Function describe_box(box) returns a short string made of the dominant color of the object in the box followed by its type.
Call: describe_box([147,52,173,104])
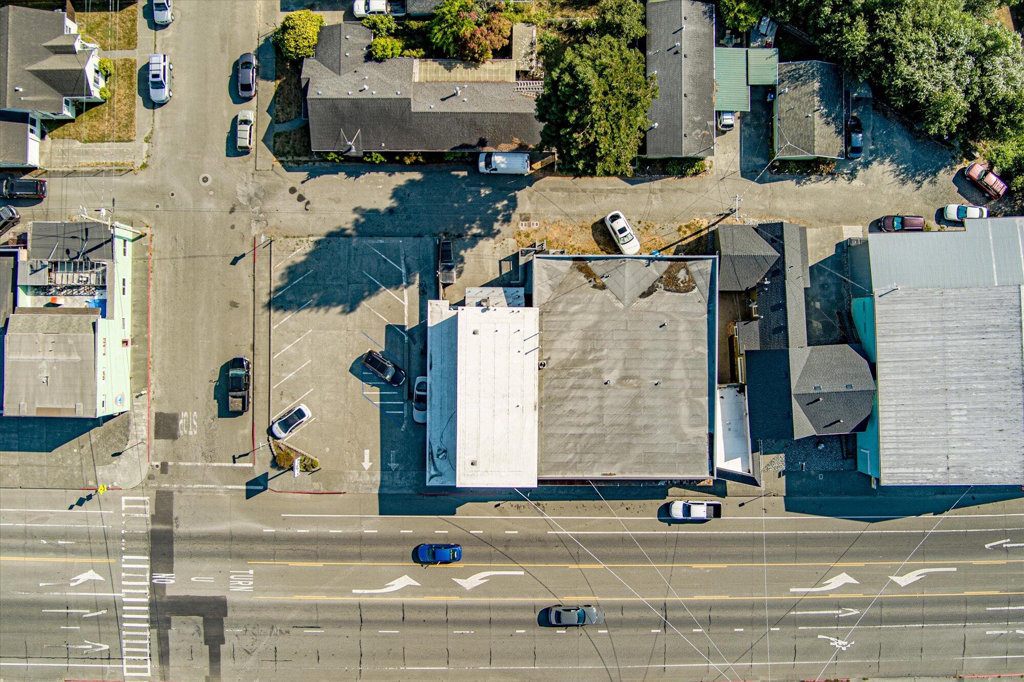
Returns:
white car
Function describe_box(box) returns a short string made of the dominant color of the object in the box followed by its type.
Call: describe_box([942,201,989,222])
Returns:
white car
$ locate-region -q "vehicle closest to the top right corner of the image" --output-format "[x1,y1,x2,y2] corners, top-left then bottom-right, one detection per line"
[962,164,1013,202]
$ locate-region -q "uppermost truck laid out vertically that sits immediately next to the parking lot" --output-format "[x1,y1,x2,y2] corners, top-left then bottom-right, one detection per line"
[437,240,458,286]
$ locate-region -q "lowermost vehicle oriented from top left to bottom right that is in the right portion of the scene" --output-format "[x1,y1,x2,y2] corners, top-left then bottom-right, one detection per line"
[604,208,641,255]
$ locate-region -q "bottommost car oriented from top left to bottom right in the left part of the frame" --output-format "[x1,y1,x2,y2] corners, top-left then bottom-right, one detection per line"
[359,349,406,388]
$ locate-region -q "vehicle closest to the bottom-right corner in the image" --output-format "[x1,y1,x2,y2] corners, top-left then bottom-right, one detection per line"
[670,500,722,522]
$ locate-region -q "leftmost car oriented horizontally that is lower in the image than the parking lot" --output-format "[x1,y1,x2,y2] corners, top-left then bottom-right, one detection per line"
[419,543,462,565]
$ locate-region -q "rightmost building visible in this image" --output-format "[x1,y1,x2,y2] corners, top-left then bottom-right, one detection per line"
[853,218,1024,488]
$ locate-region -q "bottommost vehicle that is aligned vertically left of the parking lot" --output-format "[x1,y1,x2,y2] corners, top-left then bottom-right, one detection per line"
[227,357,252,412]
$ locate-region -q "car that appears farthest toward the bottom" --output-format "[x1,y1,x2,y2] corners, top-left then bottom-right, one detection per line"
[548,605,598,628]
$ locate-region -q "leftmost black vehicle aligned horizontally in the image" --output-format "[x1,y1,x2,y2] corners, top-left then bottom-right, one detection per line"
[0,177,49,199]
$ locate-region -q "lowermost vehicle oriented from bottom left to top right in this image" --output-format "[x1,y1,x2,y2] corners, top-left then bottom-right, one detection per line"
[272,402,313,441]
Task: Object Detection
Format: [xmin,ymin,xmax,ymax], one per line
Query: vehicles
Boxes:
[548,605,598,628]
[479,152,530,175]
[151,0,176,26]
[227,357,252,412]
[845,117,867,160]
[272,402,313,441]
[236,53,259,99]
[147,52,173,104]
[942,201,989,222]
[419,543,462,565]
[0,177,49,199]
[878,213,928,233]
[410,377,426,423]
[359,349,406,388]
[715,111,737,132]
[604,208,641,255]
[437,240,458,286]
[0,204,23,243]
[962,164,1013,202]
[354,0,406,16]
[670,500,722,522]
[235,110,257,153]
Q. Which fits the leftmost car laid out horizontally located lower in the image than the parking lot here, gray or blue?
blue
